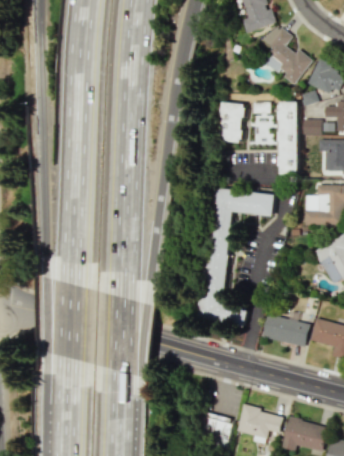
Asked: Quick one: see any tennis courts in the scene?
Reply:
No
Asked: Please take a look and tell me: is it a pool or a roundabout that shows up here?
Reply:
pool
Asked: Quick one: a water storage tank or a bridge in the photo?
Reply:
bridge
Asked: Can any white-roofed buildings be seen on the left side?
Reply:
No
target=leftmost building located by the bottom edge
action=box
[208,417,232,445]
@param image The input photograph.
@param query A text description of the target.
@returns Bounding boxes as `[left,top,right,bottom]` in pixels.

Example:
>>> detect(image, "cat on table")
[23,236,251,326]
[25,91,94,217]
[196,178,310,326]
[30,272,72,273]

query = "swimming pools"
[248,60,277,83]
[314,274,344,294]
